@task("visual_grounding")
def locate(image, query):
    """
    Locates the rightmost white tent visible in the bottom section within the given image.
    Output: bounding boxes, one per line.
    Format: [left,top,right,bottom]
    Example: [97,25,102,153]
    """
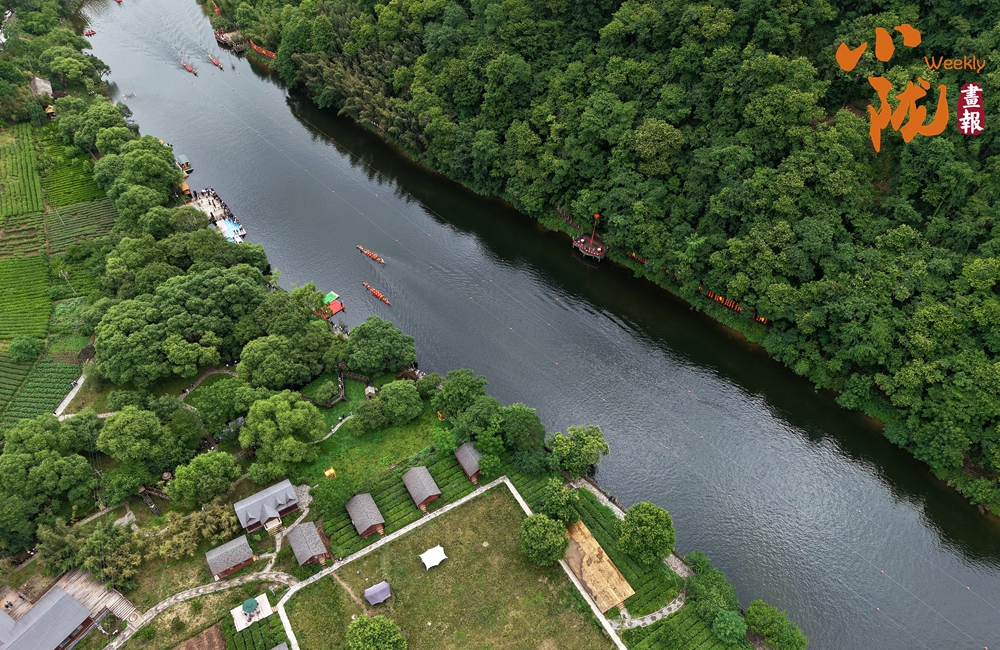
[417,544,454,576]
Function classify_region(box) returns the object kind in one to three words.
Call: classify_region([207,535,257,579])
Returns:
building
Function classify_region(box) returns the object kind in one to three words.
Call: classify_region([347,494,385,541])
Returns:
building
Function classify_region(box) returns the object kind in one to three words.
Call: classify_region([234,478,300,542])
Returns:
house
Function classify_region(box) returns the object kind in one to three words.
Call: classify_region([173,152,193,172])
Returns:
boat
